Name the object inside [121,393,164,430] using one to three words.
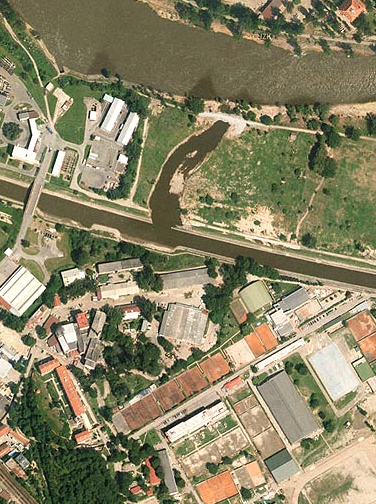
tennis court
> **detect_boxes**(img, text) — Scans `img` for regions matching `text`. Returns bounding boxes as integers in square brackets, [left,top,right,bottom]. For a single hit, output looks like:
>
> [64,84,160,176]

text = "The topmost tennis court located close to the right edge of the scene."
[347,311,376,339]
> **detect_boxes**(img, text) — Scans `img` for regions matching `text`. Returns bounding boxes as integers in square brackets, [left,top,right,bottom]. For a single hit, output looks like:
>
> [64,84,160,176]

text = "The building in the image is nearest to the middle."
[155,266,211,293]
